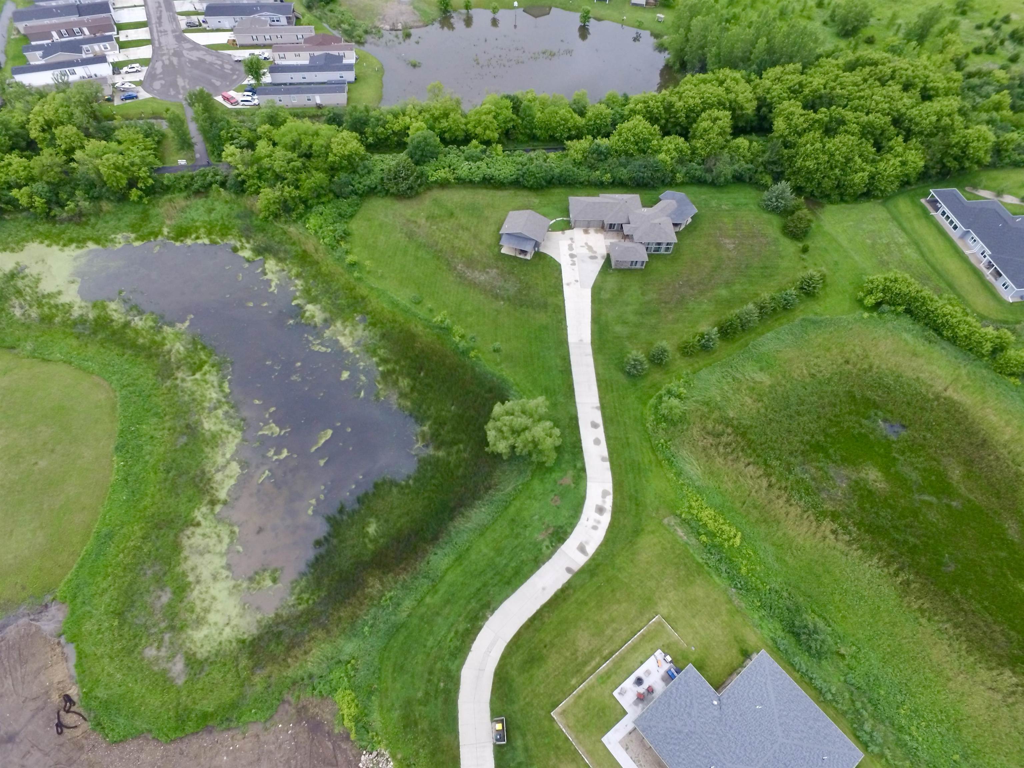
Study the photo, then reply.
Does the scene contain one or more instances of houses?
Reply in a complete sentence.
Yes, a house is visible in the scene.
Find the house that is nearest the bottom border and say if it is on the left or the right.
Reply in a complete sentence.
It is on the right.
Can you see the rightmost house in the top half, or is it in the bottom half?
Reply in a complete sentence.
The rightmost house sits in the top half of the picture.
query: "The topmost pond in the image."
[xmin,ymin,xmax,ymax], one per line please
[342,8,671,117]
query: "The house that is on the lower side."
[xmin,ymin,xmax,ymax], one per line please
[633,649,864,768]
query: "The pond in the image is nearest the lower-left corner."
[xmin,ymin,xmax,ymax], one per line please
[0,244,415,612]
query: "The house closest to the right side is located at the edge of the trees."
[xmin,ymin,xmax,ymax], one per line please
[925,188,1024,297]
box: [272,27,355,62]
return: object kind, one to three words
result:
house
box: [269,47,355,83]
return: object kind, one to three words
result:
house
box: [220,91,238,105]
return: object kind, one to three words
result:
vehicle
